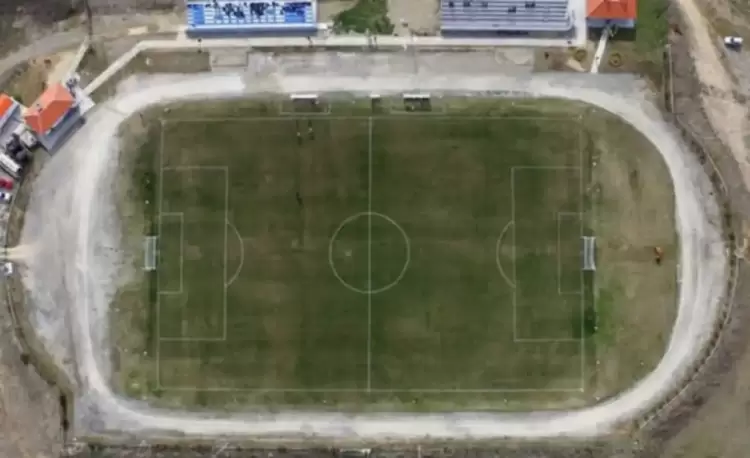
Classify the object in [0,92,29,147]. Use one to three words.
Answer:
house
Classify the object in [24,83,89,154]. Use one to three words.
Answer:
house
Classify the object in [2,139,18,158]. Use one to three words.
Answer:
car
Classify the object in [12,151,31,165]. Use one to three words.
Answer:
vehicle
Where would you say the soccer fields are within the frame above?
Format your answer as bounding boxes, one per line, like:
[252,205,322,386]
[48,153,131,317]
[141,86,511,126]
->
[155,112,587,396]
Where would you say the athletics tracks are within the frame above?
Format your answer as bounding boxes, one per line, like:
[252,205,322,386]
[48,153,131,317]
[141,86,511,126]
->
[71,76,721,440]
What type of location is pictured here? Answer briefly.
sports ground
